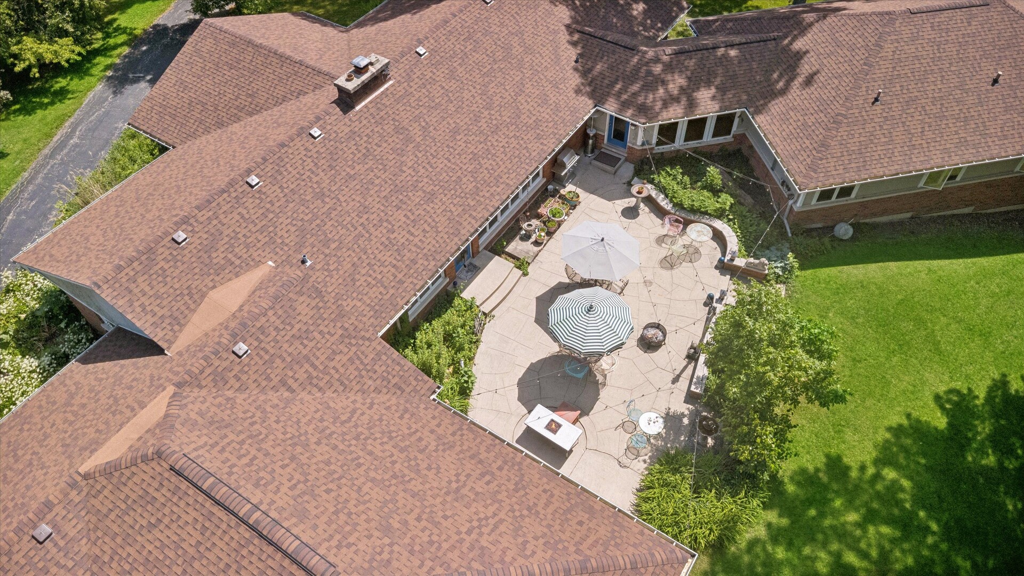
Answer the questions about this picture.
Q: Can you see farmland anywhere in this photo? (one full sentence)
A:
No, the scene doesn't show any farmland.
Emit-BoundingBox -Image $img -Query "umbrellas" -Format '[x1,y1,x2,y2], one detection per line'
[550,287,633,365]
[560,221,640,283]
